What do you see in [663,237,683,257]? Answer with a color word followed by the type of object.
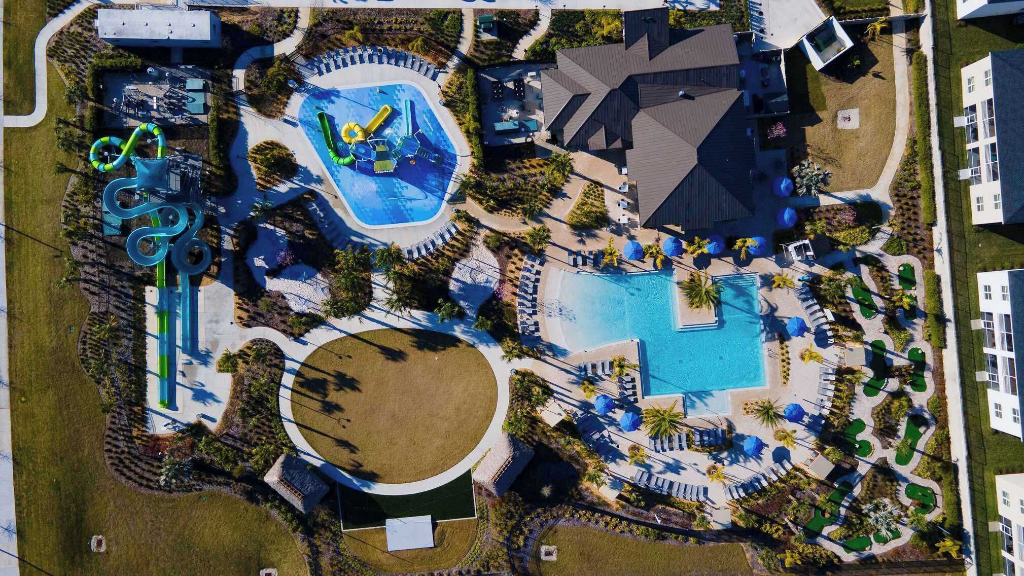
blue umbrella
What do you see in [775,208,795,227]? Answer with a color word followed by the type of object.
blue umbrella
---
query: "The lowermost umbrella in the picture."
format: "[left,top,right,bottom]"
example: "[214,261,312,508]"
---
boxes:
[742,436,763,457]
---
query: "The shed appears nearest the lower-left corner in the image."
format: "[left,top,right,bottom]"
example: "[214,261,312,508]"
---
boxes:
[264,454,329,513]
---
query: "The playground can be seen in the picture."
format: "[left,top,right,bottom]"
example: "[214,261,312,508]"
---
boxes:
[316,100,442,179]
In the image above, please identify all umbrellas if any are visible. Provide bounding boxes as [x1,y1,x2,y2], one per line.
[775,208,795,227]
[742,436,763,457]
[749,235,766,255]
[621,240,643,261]
[785,316,805,337]
[663,237,683,257]
[620,410,640,431]
[773,176,793,197]
[594,395,614,414]
[783,401,803,421]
